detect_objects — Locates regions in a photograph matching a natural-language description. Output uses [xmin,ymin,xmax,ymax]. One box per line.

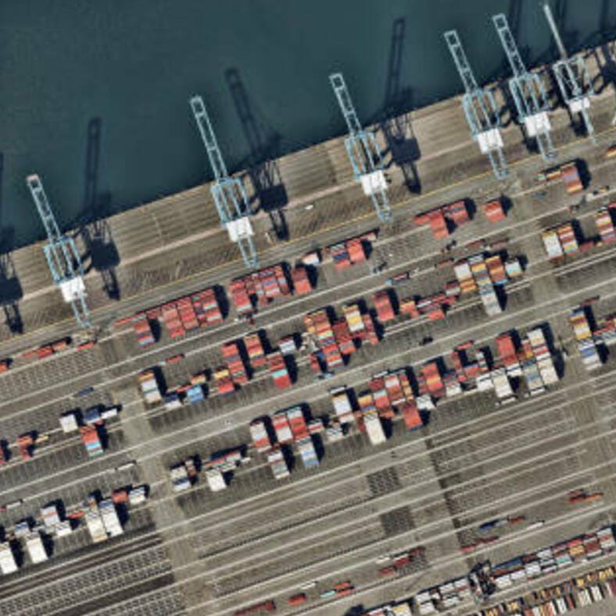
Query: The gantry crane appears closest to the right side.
[542,4,597,148]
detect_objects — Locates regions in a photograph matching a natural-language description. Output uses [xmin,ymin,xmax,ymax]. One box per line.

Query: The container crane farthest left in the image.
[27,176,90,327]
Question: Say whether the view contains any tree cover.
No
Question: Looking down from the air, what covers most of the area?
buildings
